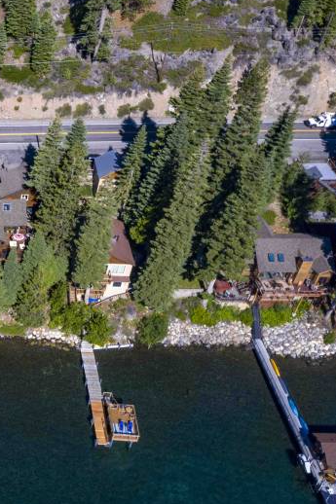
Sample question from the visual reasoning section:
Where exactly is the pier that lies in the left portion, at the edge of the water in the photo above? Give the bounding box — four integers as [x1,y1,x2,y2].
[78,337,109,451]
